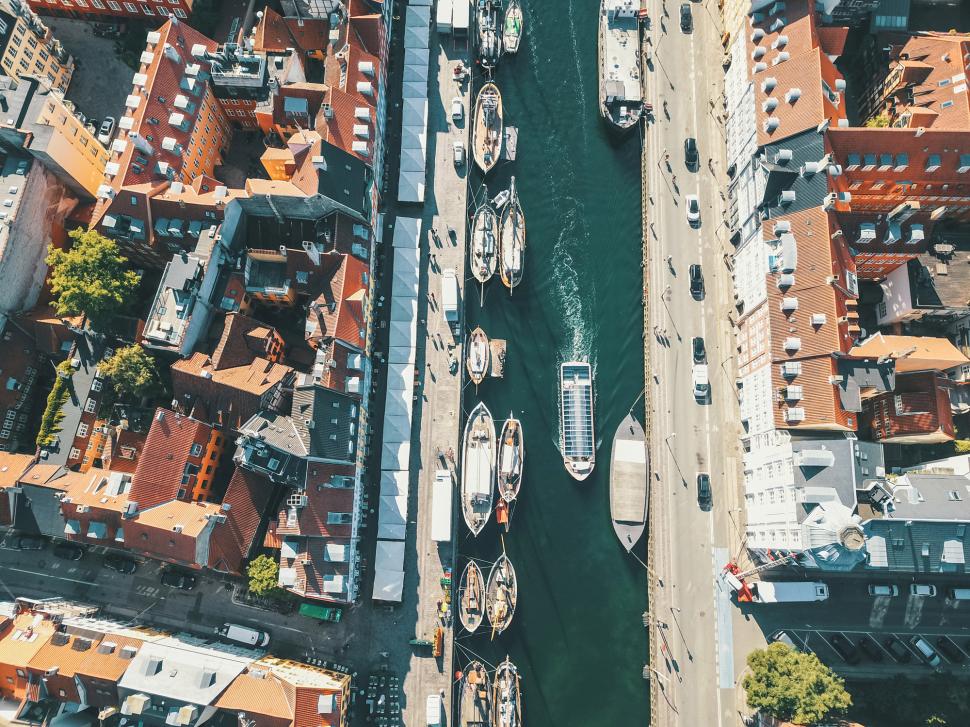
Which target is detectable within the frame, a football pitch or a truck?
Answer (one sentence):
Looking from above, you can make out a truck.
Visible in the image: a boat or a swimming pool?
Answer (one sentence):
This aerial view contains a boat.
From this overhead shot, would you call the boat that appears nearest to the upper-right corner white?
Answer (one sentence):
Yes, white is the color of the boat that appears nearest to the upper-right corner.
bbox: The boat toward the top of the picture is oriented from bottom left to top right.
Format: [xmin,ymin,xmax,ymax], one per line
[493,192,508,212]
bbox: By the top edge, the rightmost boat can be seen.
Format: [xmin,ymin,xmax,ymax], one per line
[600,0,650,134]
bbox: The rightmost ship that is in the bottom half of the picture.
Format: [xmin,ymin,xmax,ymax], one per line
[610,411,650,554]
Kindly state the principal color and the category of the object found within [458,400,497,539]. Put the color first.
white boat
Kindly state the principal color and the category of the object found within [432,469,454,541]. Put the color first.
white truck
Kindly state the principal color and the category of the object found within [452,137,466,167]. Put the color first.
white vehicle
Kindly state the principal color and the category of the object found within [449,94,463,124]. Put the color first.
white vehicle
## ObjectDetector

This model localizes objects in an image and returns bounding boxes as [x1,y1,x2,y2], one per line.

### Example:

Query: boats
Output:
[458,400,497,539]
[458,560,485,634]
[493,651,522,727]
[493,192,508,212]
[487,533,518,644]
[558,359,596,481]
[495,498,508,526]
[466,321,490,397]
[503,0,523,58]
[475,0,503,77]
[457,659,492,727]
[468,178,498,302]
[498,168,526,293]
[600,0,650,134]
[496,409,525,524]
[474,77,503,177]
